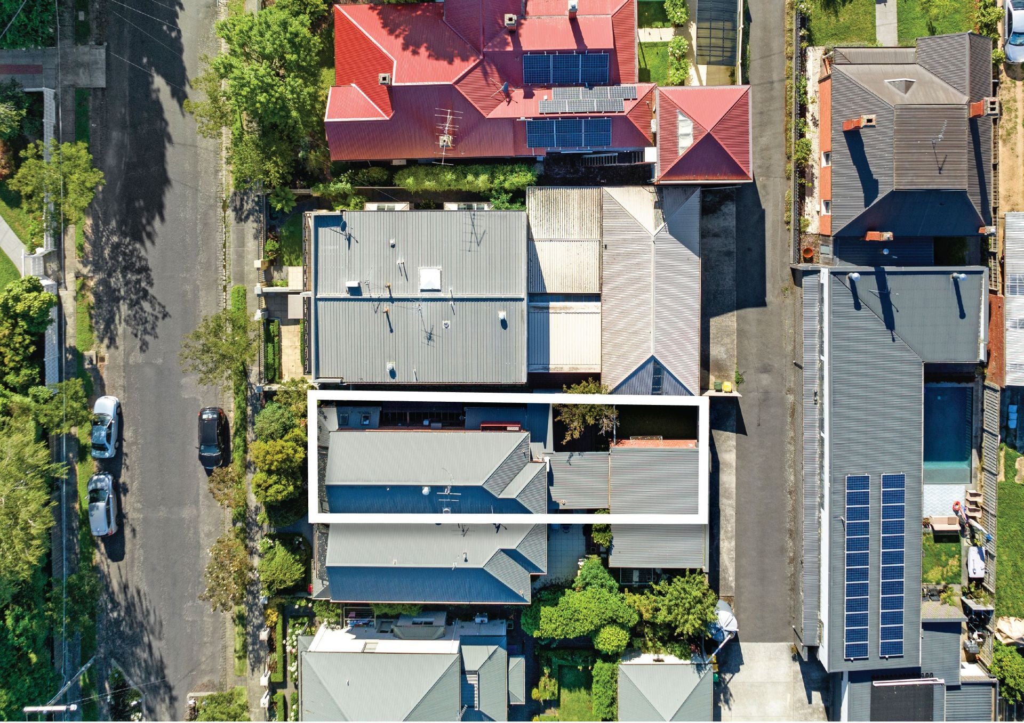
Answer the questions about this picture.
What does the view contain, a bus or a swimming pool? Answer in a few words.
swimming pool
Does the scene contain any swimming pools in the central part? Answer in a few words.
No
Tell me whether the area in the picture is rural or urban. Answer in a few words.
urban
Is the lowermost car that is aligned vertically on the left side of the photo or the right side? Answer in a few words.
left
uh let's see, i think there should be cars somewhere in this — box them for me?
[196,407,229,469]
[1001,2,1024,65]
[88,475,120,540]
[89,397,123,460]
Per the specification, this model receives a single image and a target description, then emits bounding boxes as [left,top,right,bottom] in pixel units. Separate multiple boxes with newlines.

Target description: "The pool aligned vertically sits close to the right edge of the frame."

[923,382,975,488]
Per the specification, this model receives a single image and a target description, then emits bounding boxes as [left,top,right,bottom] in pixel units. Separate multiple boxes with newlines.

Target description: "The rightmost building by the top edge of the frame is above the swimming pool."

[819,31,998,241]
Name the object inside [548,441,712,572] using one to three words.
building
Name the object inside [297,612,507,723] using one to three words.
house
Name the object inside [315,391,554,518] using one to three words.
house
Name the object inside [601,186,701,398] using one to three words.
building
